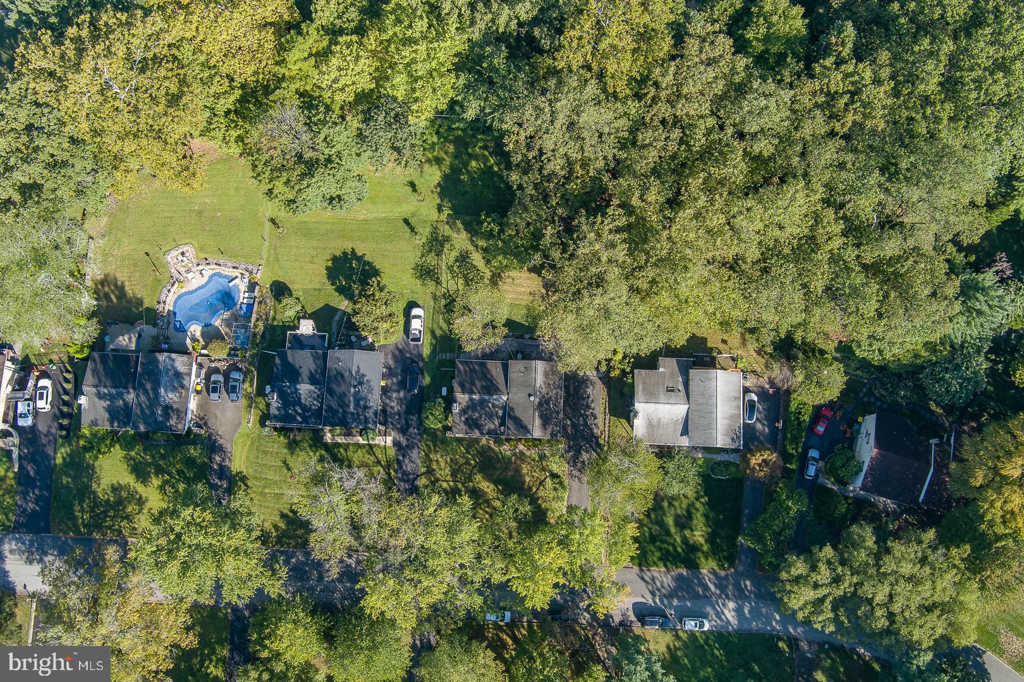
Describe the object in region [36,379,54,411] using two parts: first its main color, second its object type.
white car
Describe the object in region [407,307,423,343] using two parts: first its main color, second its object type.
white vehicle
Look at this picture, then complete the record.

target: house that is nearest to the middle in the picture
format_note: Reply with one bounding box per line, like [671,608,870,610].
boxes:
[451,359,564,440]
